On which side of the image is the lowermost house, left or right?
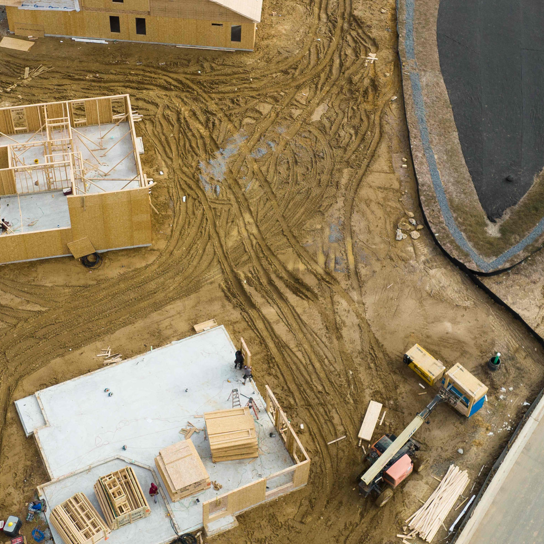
left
